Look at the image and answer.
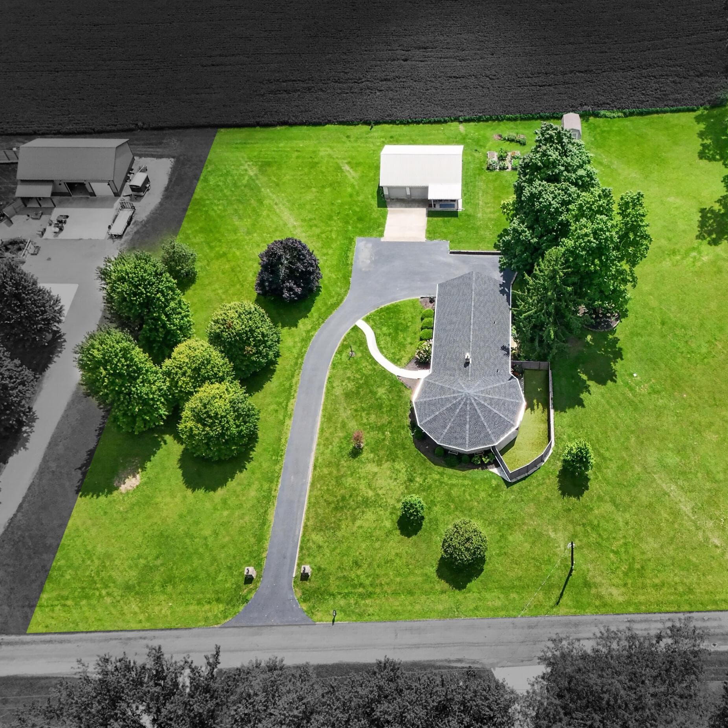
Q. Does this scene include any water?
No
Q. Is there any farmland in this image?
Yes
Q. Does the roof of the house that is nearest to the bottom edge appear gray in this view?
Yes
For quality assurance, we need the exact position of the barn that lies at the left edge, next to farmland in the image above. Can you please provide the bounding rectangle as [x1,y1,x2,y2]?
[15,139,136,207]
